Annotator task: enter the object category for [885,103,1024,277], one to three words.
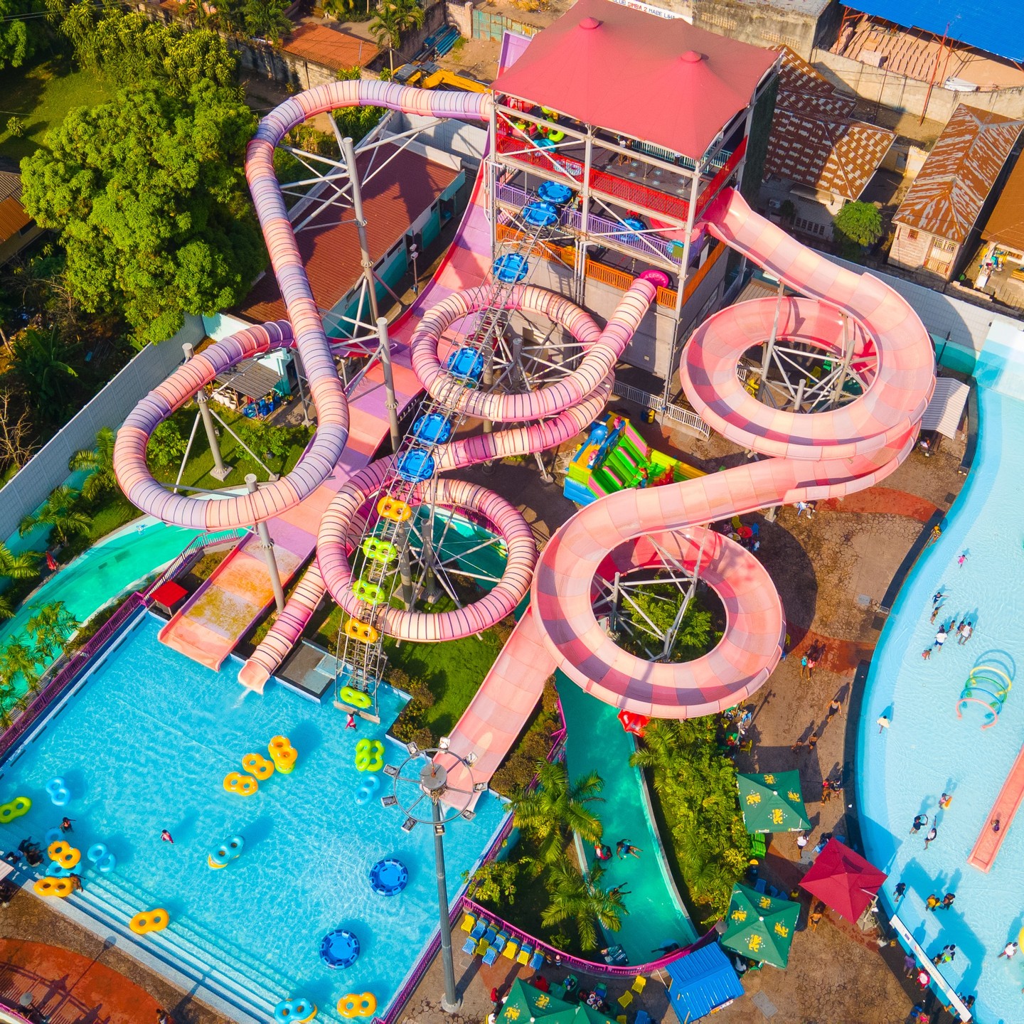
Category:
house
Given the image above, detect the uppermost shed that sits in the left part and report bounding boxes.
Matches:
[281,23,380,78]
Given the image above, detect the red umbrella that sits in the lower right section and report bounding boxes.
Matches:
[799,839,889,941]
